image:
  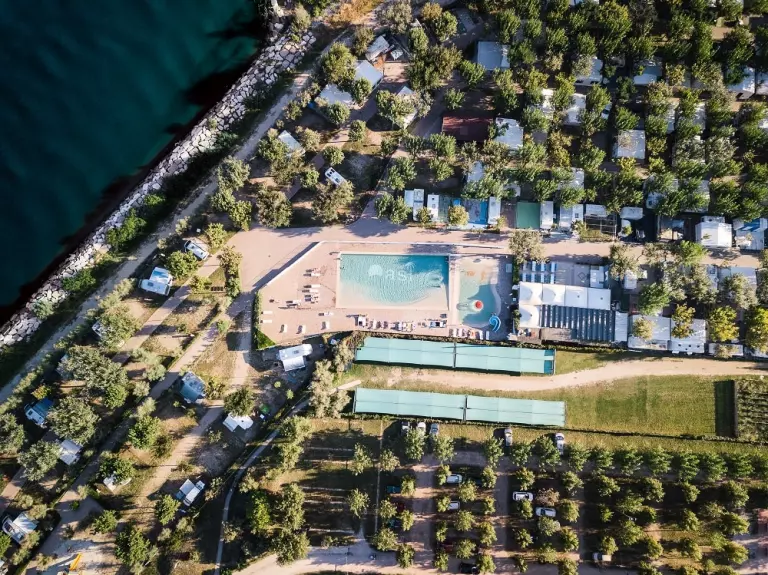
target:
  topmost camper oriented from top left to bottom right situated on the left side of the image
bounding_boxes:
[278,131,305,160]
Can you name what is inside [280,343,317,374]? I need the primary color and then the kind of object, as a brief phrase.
white camper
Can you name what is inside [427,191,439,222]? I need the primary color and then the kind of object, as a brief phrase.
white vehicle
